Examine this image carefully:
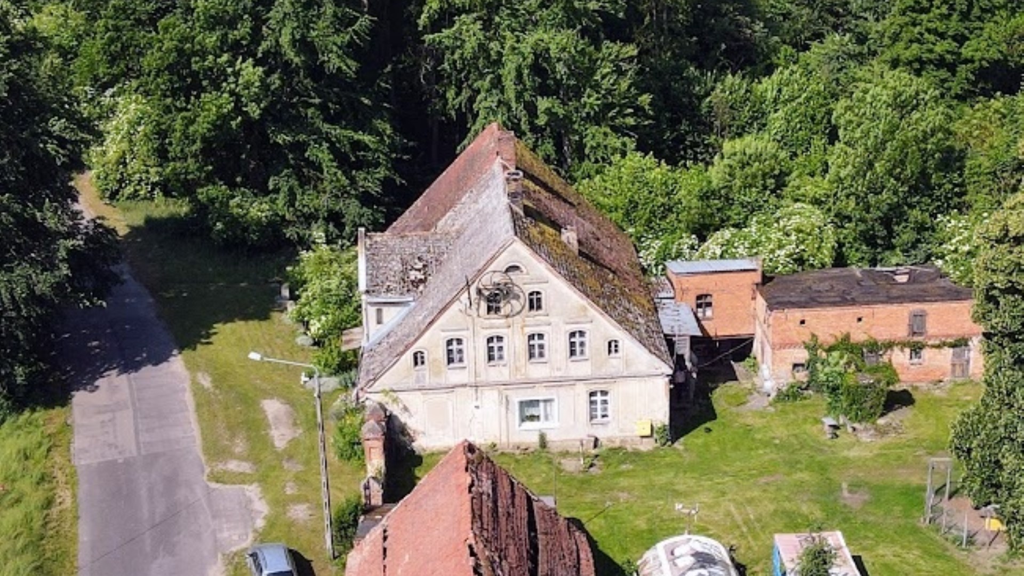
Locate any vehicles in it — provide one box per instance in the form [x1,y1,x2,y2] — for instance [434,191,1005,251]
[242,543,299,576]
